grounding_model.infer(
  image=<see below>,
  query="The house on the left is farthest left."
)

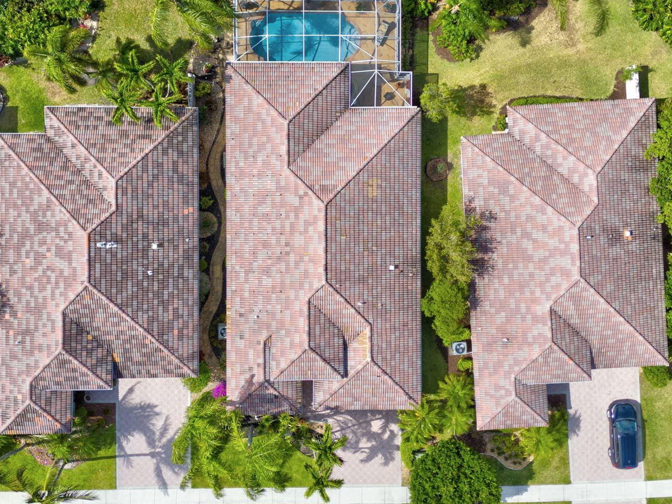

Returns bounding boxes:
[0,105,200,436]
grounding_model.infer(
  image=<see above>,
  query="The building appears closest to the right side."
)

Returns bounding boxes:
[460,97,671,431]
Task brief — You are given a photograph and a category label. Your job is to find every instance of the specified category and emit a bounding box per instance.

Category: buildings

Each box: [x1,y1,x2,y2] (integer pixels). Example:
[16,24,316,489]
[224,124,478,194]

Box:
[0,105,200,436]
[225,61,423,416]
[460,97,671,431]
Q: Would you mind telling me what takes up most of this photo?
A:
buildings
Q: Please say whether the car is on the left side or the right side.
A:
right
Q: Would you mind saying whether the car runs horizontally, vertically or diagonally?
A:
vertically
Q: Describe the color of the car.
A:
blue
